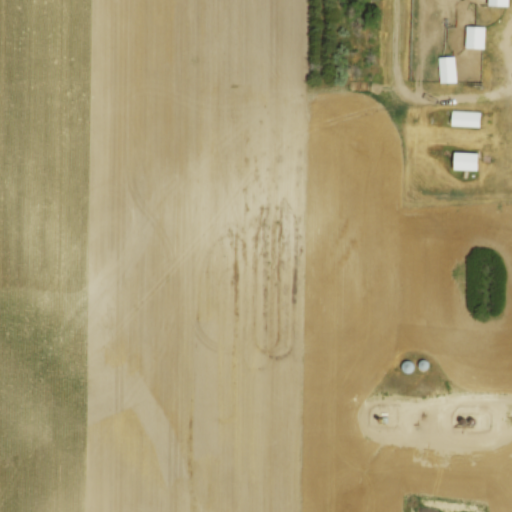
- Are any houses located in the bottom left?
No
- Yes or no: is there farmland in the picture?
Yes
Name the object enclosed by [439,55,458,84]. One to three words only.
barn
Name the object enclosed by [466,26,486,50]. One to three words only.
barn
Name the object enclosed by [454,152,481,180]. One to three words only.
house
